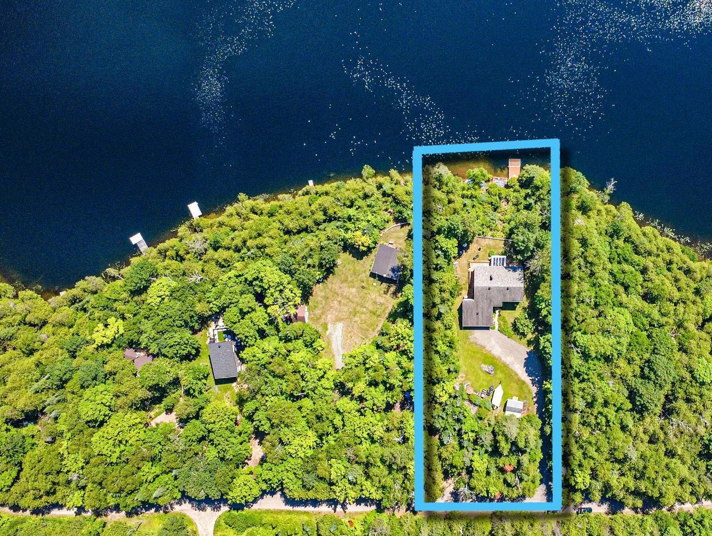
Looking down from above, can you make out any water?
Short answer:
Yes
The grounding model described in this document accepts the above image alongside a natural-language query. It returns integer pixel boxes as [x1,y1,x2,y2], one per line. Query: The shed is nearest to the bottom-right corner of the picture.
[505,395,523,417]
